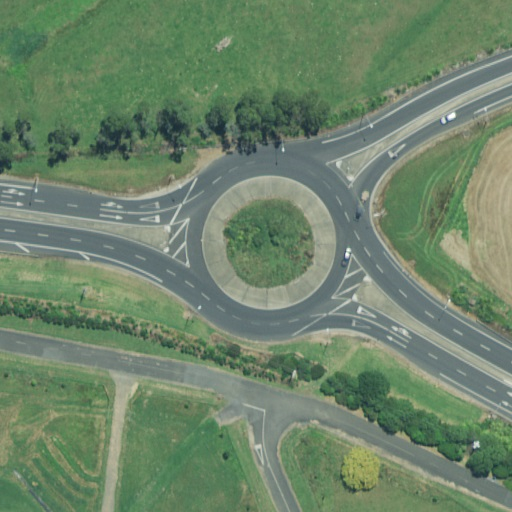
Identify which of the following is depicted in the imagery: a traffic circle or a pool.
traffic circle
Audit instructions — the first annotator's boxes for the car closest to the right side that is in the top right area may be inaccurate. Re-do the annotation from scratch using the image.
[440,112,457,124]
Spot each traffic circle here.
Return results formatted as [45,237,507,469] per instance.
[184,146,370,340]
